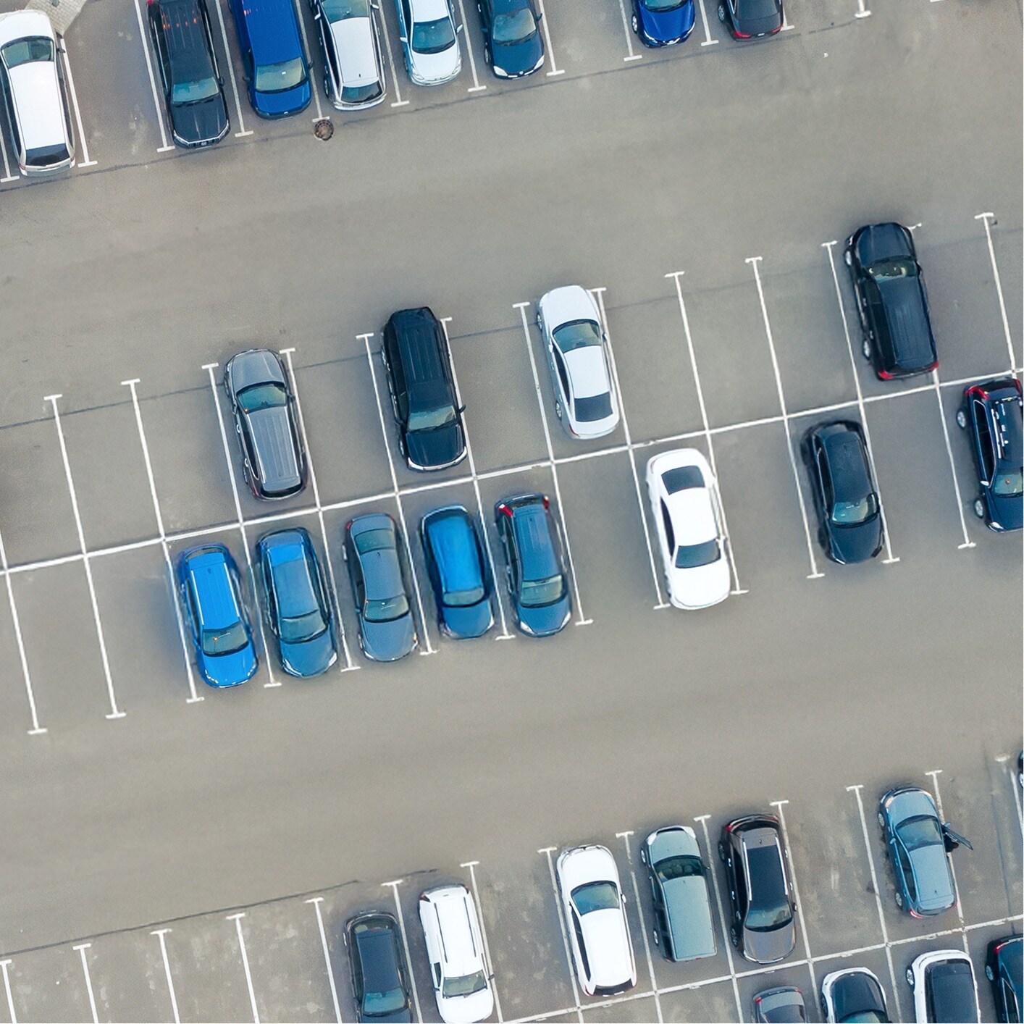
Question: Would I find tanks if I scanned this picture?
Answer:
No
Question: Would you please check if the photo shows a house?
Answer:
No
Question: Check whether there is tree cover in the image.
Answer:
No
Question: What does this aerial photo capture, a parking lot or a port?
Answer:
parking lot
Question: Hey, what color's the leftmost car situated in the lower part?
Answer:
blue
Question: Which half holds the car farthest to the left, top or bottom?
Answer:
top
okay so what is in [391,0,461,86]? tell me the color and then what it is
white car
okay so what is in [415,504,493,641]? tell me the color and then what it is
blue car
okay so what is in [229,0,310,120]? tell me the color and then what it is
blue van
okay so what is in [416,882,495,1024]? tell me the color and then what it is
white van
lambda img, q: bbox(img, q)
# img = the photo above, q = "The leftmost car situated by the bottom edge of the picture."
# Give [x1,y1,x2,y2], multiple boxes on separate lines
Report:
[346,909,422,1024]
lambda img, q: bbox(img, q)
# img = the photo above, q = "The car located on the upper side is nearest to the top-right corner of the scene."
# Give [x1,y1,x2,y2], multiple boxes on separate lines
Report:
[716,0,782,41]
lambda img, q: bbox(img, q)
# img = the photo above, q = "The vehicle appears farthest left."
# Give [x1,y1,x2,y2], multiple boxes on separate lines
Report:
[0,9,77,176]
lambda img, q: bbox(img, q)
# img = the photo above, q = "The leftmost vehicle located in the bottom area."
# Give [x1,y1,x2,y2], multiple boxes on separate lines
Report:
[178,545,254,689]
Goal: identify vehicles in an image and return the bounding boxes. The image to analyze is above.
[718,813,804,967]
[385,307,466,472]
[416,882,495,1024]
[645,447,728,612]
[541,284,624,441]
[556,843,638,1001]
[907,948,986,1024]
[256,526,333,680]
[492,494,572,638]
[470,0,541,80]
[641,825,722,966]
[985,933,1024,1024]
[178,545,254,689]
[747,986,813,1024]
[0,9,77,176]
[716,0,782,41]
[346,909,422,1024]
[800,419,884,566]
[415,504,493,641]
[308,0,385,111]
[816,966,895,1024]
[847,221,940,381]
[876,786,970,921]
[229,347,309,501]
[391,0,461,86]
[146,0,229,149]
[343,512,416,663]
[961,380,1024,533]
[229,0,310,120]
